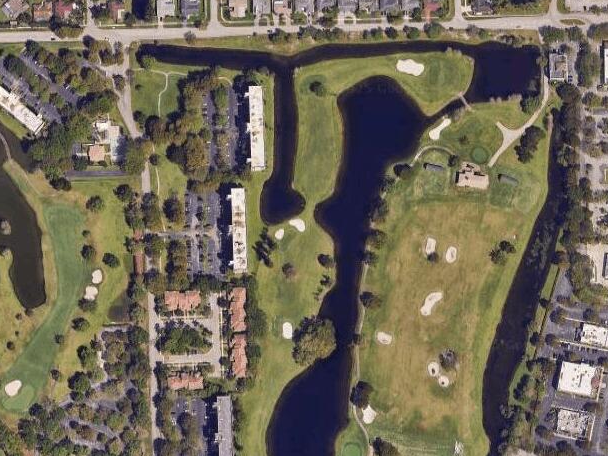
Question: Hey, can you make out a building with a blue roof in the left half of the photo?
No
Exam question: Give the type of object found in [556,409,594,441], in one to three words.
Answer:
building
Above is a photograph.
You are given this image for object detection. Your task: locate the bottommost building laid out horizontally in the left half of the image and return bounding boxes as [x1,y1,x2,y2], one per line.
[168,372,204,391]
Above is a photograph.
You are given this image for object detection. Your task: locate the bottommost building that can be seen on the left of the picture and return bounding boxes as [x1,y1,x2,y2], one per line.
[213,395,232,456]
